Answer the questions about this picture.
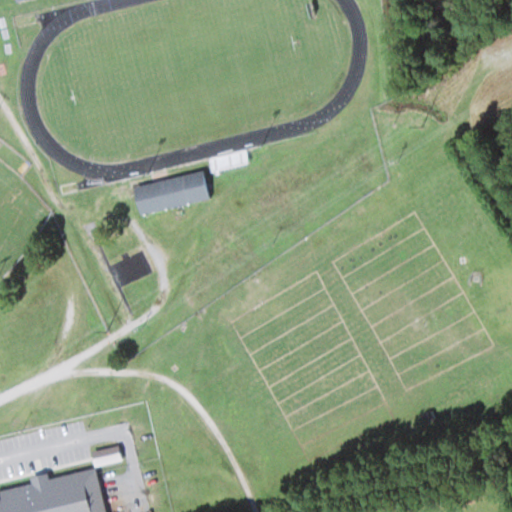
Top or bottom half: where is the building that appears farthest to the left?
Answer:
bottom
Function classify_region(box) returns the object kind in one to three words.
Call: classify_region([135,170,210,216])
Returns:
shed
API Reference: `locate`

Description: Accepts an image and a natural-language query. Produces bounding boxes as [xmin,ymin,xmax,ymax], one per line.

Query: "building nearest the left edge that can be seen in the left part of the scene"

[0,469,105,512]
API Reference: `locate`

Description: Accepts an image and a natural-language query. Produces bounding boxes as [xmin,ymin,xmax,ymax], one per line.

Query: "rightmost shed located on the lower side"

[94,446,124,468]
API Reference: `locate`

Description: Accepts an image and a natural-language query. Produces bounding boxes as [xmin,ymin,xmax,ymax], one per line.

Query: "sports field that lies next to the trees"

[37,0,351,164]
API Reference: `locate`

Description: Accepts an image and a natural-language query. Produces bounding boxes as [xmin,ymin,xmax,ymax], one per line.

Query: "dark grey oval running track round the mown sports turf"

[22,0,368,182]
